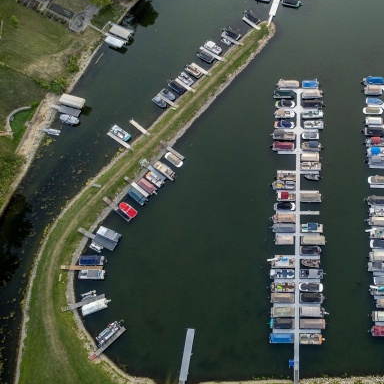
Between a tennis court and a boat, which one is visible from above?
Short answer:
boat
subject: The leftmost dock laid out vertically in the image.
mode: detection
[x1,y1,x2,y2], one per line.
[179,329,195,384]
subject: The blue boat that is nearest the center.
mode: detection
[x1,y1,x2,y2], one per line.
[128,188,149,207]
